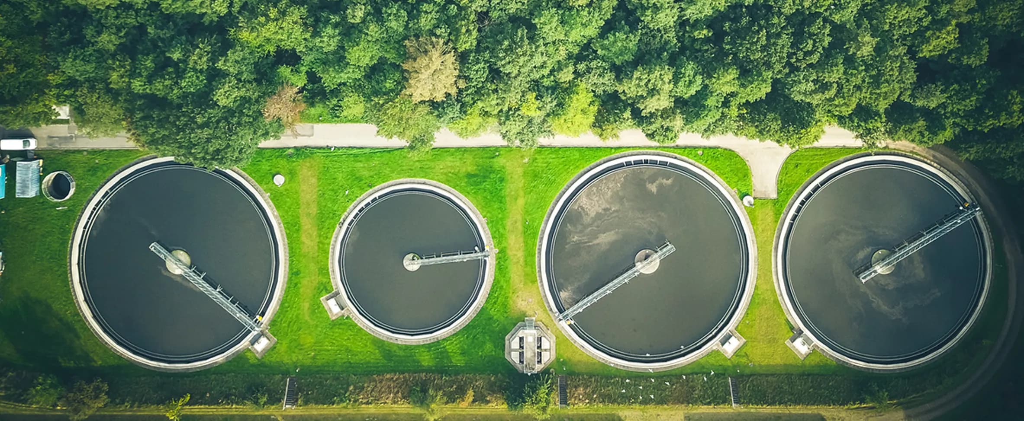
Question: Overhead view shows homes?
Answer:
No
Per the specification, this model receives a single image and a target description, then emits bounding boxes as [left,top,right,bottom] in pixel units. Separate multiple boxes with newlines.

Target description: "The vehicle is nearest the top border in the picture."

[1,137,40,151]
